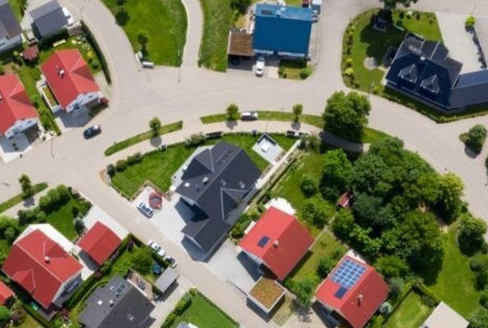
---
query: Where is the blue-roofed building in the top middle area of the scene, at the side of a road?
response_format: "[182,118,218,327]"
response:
[254,4,313,66]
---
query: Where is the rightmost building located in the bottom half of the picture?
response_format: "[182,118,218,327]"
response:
[425,305,469,328]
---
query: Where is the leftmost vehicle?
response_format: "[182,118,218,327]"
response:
[83,126,101,138]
